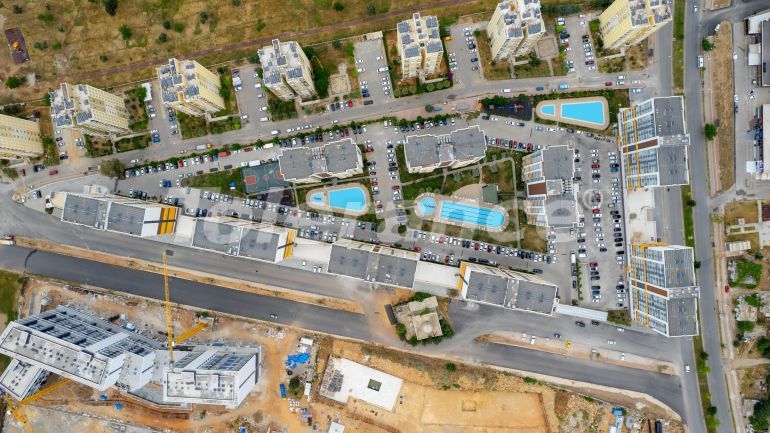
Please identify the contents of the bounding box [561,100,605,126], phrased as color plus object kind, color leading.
blue swimming pool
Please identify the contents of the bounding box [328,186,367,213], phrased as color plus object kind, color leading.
blue swimming pool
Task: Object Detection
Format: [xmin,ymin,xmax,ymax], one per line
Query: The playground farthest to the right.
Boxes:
[486,98,531,120]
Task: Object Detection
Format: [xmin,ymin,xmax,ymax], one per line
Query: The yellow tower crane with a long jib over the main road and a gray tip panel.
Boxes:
[162,249,211,366]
